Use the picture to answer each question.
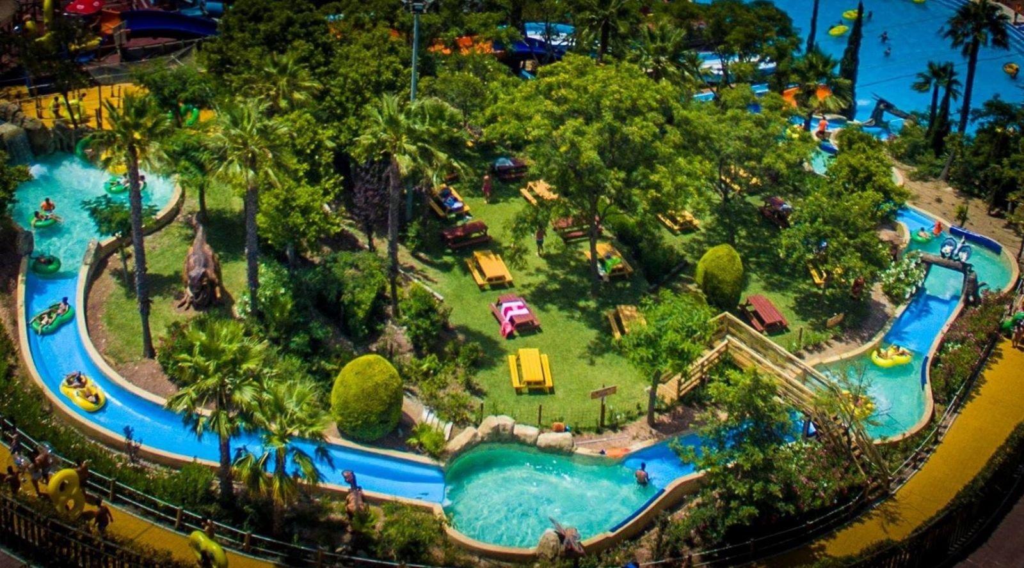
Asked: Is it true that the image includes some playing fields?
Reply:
No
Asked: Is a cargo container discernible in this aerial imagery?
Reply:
No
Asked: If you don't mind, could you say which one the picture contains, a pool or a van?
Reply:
pool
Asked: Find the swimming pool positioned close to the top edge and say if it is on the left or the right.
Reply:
right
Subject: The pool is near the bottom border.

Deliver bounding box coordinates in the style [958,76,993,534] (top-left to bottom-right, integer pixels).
[439,441,663,549]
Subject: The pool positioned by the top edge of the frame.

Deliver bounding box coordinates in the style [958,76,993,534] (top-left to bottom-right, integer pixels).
[764,0,1024,164]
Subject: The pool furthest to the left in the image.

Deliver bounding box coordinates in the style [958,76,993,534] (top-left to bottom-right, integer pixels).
[0,153,191,284]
